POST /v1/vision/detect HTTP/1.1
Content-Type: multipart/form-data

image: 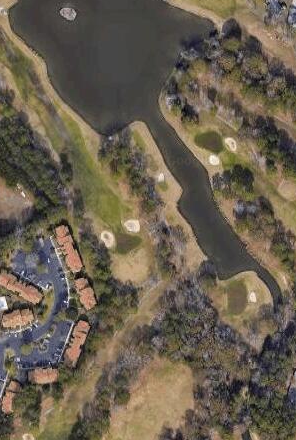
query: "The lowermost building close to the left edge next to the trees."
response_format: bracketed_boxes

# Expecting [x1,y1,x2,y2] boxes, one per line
[1,380,23,415]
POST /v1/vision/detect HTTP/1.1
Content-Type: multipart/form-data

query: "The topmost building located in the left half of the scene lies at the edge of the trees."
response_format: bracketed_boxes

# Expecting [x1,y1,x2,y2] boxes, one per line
[54,222,84,274]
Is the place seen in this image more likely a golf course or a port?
golf course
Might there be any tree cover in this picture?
Yes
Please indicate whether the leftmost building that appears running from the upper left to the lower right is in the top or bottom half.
bottom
